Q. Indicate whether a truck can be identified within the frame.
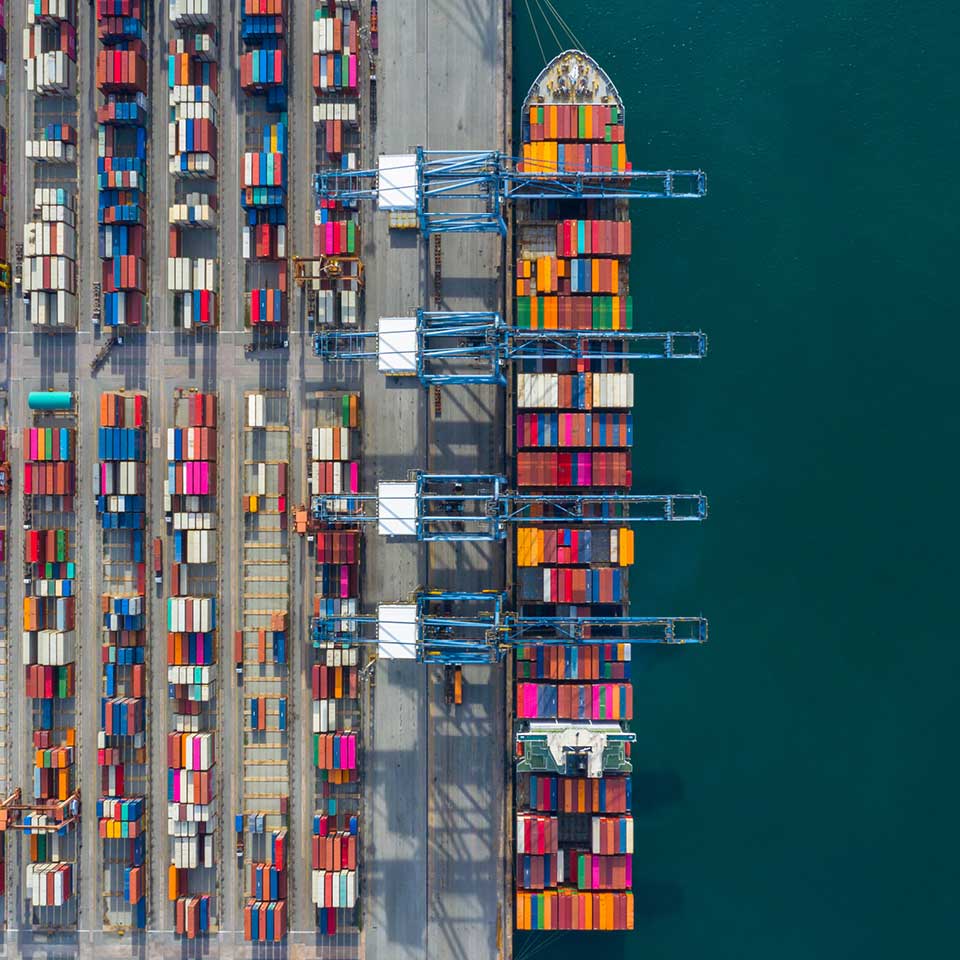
Yes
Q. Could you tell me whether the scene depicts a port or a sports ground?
port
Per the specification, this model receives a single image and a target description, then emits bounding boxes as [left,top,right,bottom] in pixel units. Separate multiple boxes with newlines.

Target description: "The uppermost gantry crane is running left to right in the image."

[311,147,708,257]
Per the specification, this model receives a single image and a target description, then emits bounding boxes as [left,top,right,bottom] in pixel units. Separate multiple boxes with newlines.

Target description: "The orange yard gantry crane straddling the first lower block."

[0,789,82,831]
